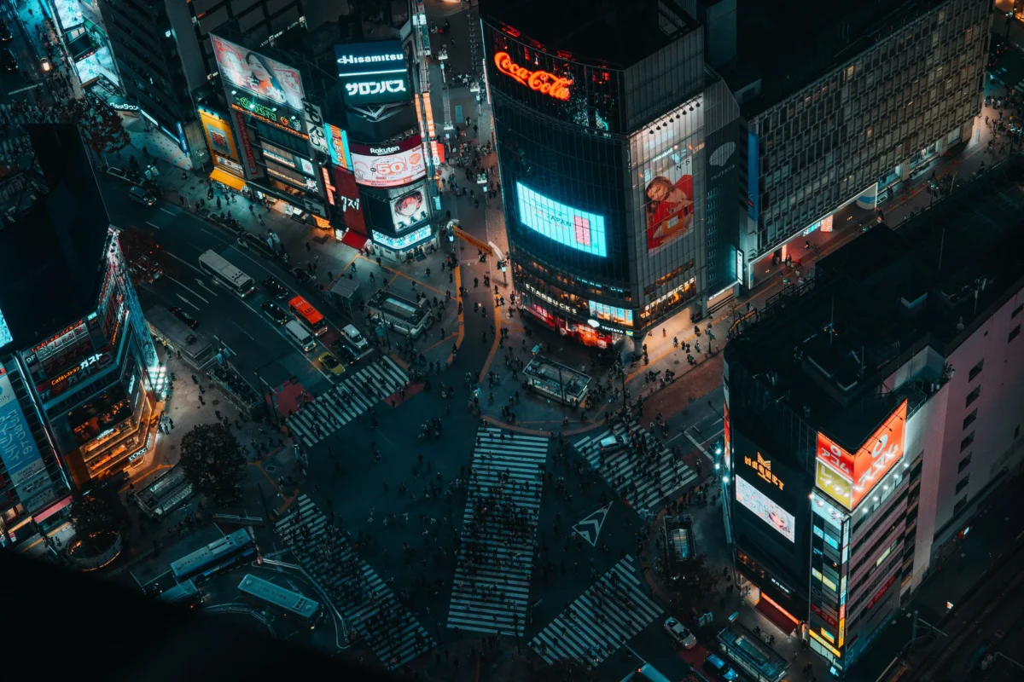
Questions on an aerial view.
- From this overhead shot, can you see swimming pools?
No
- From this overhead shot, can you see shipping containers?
No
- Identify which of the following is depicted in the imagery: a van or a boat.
van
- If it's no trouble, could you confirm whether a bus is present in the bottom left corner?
Yes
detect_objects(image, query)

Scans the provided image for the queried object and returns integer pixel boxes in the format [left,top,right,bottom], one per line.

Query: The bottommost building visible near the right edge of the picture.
[719,183,1024,670]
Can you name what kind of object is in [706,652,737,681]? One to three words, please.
car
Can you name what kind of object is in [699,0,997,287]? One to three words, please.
building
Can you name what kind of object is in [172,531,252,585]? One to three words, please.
bus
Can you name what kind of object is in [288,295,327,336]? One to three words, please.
vehicle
